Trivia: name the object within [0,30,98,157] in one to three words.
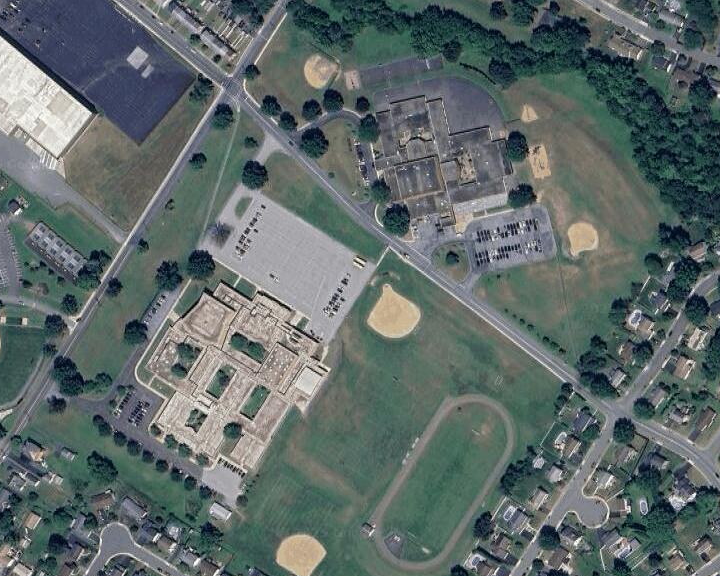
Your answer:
building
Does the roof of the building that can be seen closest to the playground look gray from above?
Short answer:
Yes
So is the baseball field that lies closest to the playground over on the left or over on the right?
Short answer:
right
